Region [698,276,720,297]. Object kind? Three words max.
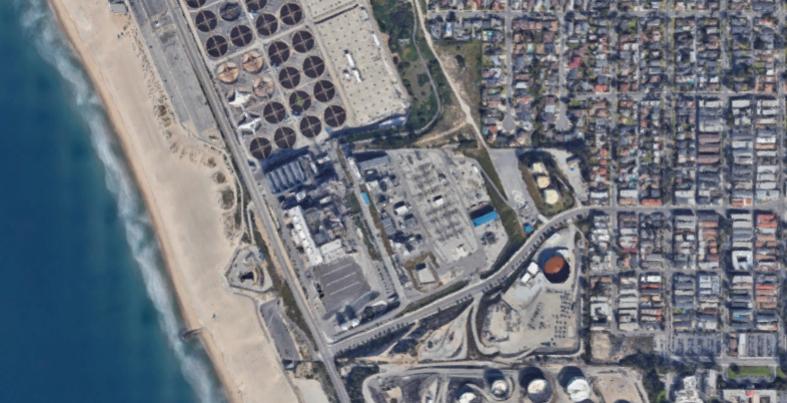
building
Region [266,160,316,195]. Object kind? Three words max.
building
